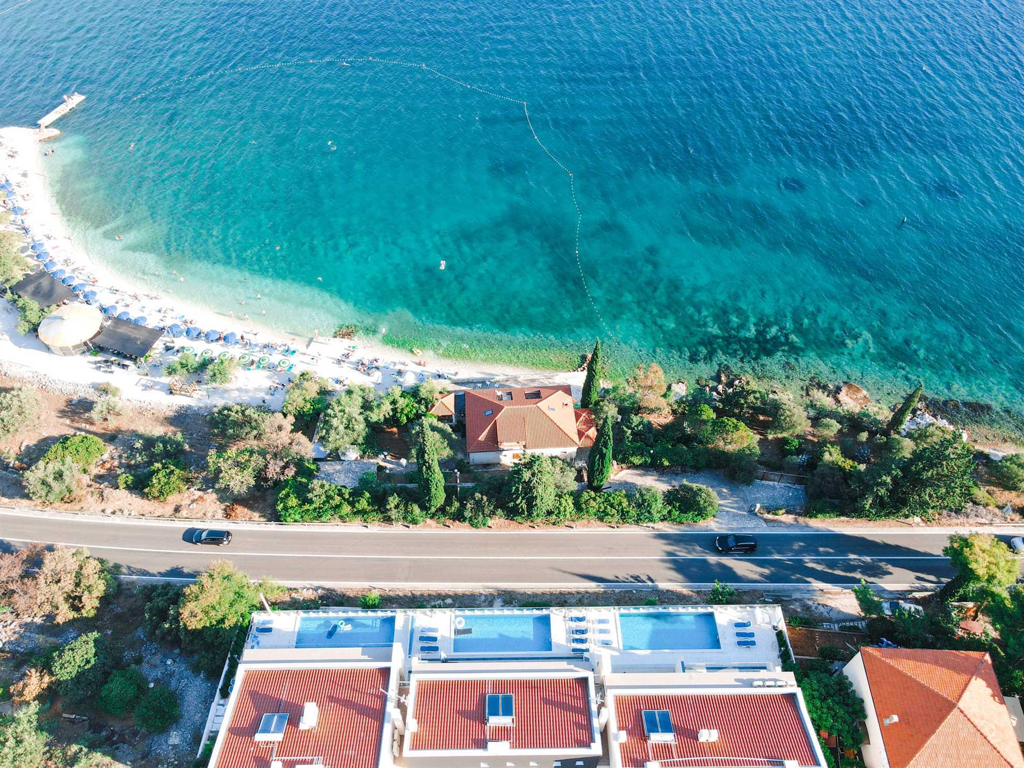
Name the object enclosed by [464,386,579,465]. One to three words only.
house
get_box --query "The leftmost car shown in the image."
[187,527,232,548]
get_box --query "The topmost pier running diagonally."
[35,92,90,127]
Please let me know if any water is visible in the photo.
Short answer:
Yes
